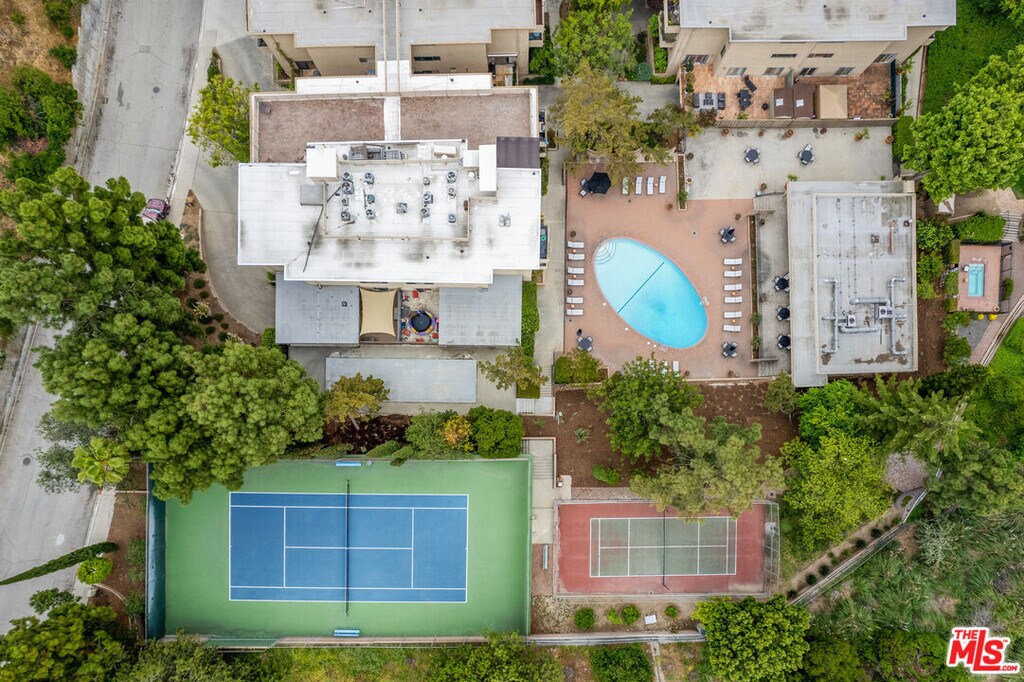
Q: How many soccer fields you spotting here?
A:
0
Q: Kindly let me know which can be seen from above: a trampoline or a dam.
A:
trampoline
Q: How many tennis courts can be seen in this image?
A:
2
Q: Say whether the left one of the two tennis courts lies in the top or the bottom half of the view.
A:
bottom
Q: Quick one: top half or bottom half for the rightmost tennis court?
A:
bottom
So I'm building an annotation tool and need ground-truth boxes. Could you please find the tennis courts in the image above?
[556,501,766,594]
[164,457,531,637]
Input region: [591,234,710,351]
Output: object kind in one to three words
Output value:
swimming pool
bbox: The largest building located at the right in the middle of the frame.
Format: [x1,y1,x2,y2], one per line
[785,181,918,387]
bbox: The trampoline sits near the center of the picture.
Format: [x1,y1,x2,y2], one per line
[408,310,432,334]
